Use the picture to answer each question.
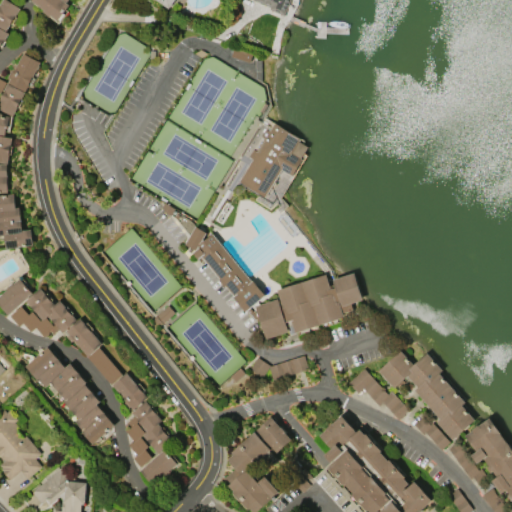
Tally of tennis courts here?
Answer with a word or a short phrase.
seven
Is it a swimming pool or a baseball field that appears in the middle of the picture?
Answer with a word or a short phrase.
swimming pool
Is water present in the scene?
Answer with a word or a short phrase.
Yes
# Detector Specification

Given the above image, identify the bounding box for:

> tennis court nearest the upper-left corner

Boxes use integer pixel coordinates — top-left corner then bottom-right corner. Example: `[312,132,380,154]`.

[84,33,150,114]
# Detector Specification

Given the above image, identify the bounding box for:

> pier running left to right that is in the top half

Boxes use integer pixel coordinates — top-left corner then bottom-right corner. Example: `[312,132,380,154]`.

[292,16,350,40]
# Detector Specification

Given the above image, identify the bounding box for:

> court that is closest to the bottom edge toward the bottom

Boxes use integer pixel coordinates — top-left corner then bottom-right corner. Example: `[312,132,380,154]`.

[170,304,246,384]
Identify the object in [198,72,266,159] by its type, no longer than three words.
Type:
tennis court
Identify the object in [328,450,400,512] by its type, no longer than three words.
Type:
house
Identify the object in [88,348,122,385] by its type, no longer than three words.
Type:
building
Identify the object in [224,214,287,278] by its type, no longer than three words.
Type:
swimming pool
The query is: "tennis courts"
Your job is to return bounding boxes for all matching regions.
[133,151,214,219]
[150,120,234,190]
[170,304,246,384]
[169,57,240,138]
[106,230,182,311]
[84,33,150,114]
[198,72,266,159]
